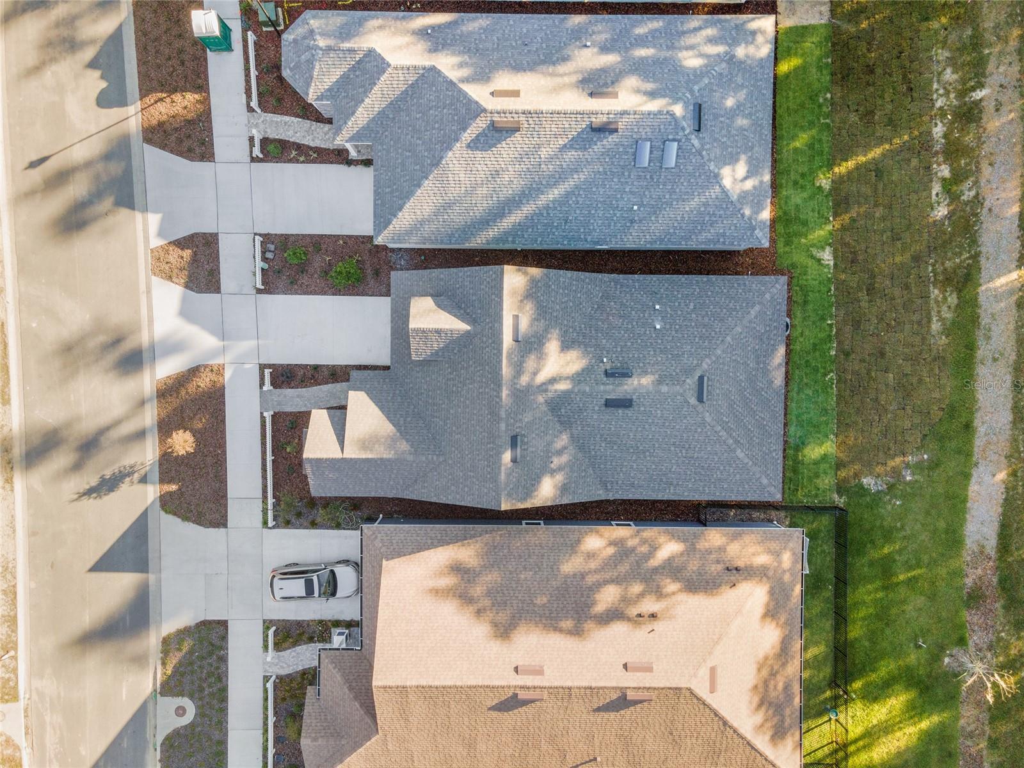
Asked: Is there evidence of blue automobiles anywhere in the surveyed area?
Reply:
No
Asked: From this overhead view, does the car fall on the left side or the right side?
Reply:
left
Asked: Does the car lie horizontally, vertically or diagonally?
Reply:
horizontally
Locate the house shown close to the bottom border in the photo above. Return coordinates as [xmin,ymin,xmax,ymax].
[300,514,808,768]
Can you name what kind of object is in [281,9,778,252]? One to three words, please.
house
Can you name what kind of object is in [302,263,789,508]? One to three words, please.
house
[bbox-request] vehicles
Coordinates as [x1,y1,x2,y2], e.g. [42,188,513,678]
[268,563,358,606]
